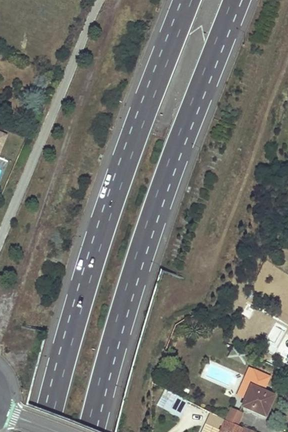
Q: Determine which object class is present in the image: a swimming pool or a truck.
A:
swimming pool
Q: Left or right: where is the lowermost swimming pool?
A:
right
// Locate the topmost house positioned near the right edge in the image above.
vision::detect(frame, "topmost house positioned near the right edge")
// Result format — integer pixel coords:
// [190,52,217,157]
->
[238,366,278,416]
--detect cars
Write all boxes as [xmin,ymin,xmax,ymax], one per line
[76,258,84,270]
[100,187,108,200]
[104,174,112,186]
[191,414,202,420]
[89,257,96,268]
[77,296,84,307]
